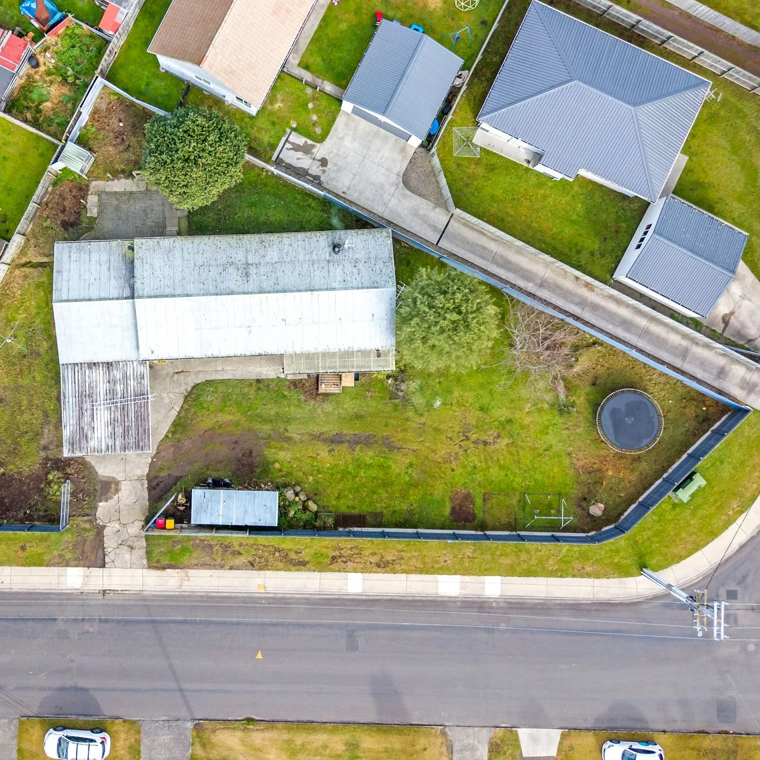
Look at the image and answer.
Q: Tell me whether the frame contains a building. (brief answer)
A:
Yes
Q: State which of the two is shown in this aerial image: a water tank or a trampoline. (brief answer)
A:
trampoline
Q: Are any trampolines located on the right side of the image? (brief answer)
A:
Yes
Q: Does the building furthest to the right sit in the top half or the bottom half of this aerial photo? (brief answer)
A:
top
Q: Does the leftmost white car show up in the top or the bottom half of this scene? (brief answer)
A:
bottom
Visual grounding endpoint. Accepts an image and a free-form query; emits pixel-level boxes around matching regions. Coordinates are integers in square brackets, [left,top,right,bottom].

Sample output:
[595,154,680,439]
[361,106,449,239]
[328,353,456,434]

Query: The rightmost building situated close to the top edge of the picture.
[477,0,713,203]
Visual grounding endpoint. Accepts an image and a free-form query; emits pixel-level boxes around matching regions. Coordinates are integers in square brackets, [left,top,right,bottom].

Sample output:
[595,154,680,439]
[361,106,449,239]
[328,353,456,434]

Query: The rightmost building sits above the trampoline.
[611,194,750,319]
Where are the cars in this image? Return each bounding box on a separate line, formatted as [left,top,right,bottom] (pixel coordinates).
[598,737,666,760]
[44,726,112,760]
